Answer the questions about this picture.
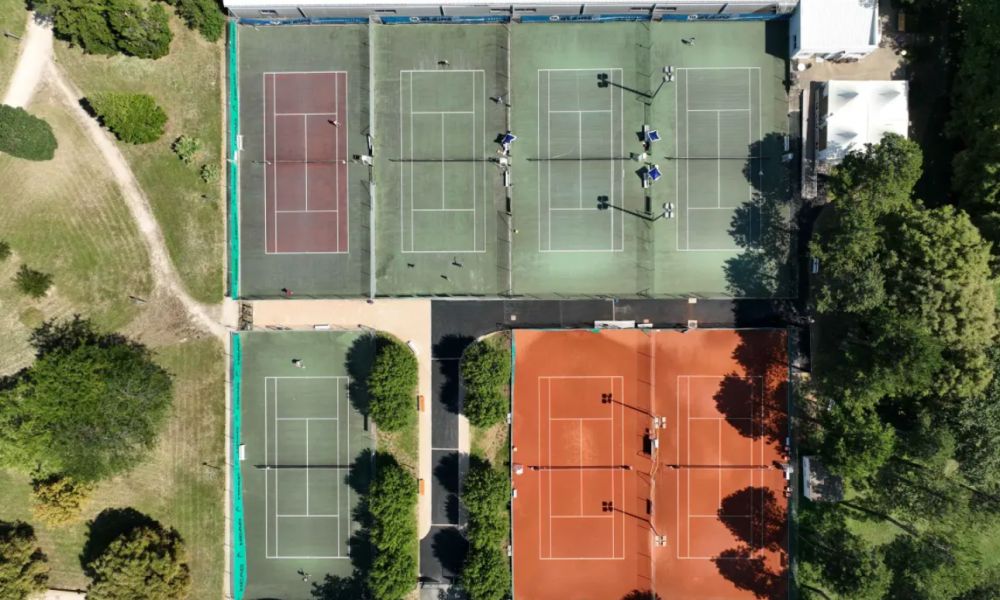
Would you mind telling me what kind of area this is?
sports ground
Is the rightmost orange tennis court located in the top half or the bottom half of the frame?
bottom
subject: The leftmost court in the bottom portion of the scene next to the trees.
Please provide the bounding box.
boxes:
[242,331,377,600]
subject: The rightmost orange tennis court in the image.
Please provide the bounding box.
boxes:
[652,330,789,600]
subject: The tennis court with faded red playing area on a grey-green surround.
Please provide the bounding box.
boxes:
[239,21,375,299]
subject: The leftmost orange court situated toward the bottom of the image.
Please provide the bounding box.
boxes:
[514,330,653,600]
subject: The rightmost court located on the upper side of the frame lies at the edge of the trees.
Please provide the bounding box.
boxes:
[651,21,790,299]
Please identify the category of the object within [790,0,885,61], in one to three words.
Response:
building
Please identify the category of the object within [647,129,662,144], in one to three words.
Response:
umbrella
